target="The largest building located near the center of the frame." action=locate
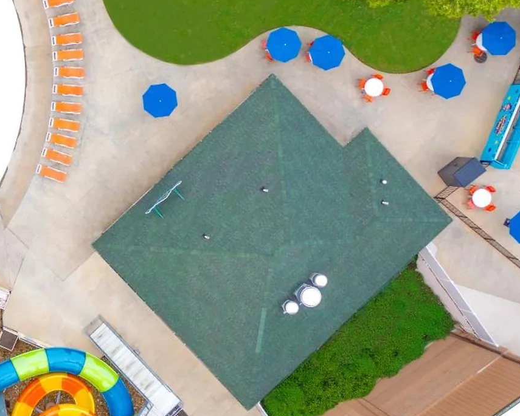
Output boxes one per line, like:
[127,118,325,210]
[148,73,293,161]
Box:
[92,75,452,410]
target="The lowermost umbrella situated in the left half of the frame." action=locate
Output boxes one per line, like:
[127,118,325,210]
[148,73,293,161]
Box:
[140,83,177,119]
